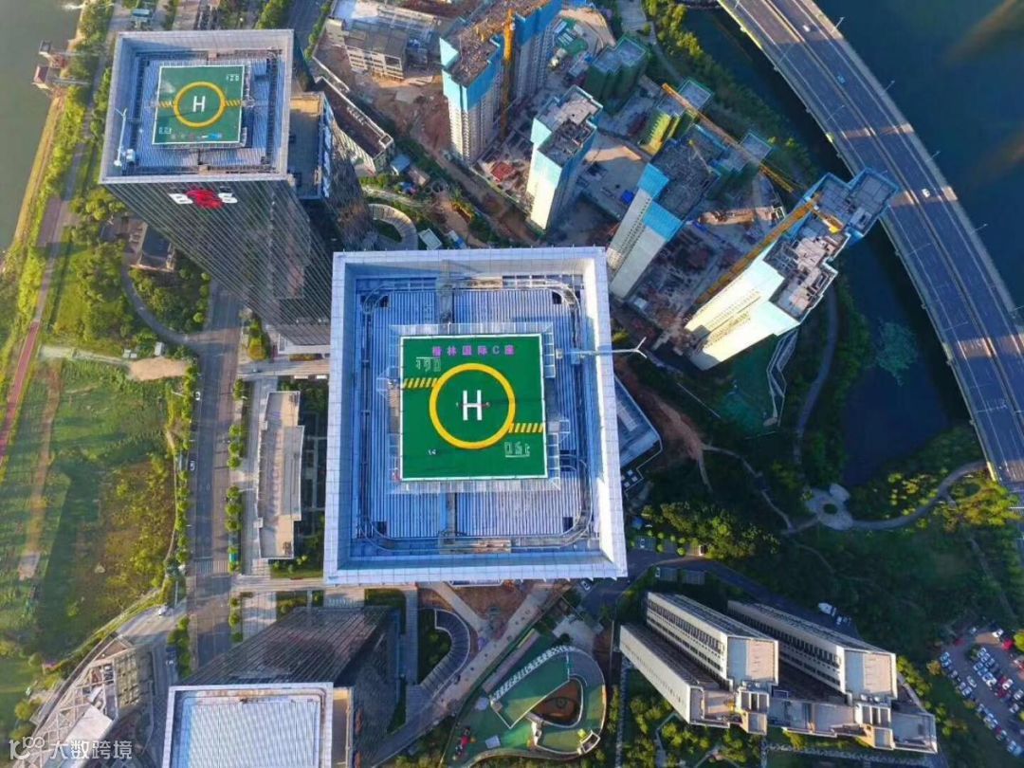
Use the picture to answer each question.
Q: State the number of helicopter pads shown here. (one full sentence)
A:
The number of helicopter pads here is 2.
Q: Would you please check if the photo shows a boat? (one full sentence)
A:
No, there appears to be no boat in this shot.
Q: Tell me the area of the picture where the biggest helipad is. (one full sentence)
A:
The biggest helipad appears toward the center of the photo.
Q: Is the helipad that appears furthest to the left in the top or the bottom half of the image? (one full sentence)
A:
You can find the helipad that appears furthest to the left in the top half.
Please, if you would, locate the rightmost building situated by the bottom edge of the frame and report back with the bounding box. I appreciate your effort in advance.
[623,593,940,754]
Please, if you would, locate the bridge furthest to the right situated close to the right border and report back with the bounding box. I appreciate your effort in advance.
[715,0,1024,565]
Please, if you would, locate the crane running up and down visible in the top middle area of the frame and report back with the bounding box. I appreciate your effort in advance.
[472,4,520,136]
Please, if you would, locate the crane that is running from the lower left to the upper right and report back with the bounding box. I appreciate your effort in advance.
[694,177,851,304]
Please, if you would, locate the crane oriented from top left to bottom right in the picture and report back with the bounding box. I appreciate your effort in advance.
[663,85,756,169]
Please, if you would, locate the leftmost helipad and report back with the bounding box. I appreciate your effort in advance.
[145,58,249,149]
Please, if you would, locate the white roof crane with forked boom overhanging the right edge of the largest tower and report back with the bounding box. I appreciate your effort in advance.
[561,338,646,367]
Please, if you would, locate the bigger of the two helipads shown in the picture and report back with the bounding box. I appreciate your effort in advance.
[377,320,569,494]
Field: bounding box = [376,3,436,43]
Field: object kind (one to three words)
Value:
building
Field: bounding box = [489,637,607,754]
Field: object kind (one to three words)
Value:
building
